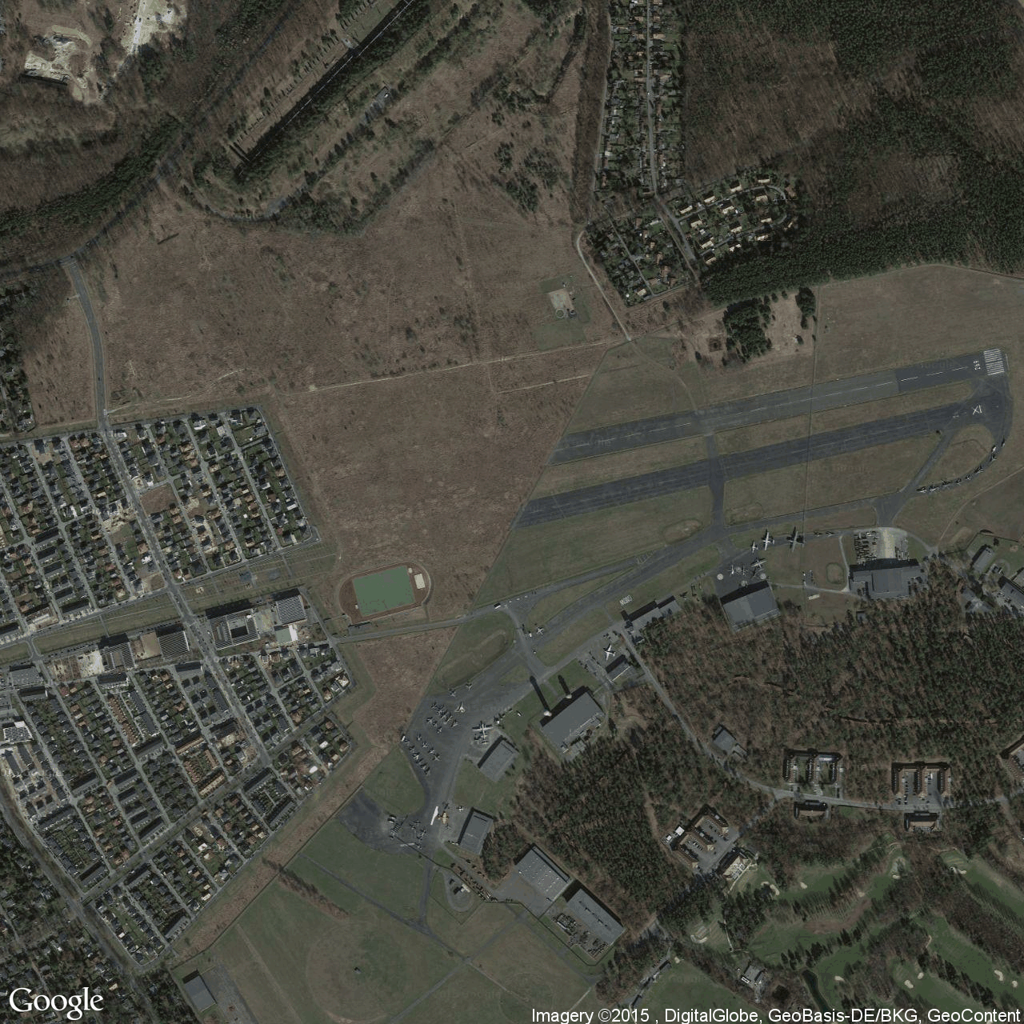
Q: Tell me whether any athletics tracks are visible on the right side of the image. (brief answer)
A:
No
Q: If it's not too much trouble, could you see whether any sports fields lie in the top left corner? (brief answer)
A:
No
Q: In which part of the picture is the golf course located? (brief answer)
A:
bottom right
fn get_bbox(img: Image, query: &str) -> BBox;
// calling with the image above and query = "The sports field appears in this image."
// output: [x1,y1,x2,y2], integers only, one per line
[337,560,433,637]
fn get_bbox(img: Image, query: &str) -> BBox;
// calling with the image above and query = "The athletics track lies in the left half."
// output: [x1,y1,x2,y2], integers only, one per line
[339,562,430,625]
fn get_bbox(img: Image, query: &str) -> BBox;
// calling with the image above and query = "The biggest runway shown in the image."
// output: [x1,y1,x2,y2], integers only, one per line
[513,390,1013,529]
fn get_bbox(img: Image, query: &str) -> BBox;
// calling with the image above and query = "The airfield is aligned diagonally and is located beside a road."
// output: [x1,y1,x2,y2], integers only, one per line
[299,348,1014,1024]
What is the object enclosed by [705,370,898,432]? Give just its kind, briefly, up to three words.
runway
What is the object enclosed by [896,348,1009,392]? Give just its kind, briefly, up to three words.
runway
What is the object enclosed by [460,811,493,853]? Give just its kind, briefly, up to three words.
hangar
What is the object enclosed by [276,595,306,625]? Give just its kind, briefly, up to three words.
building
